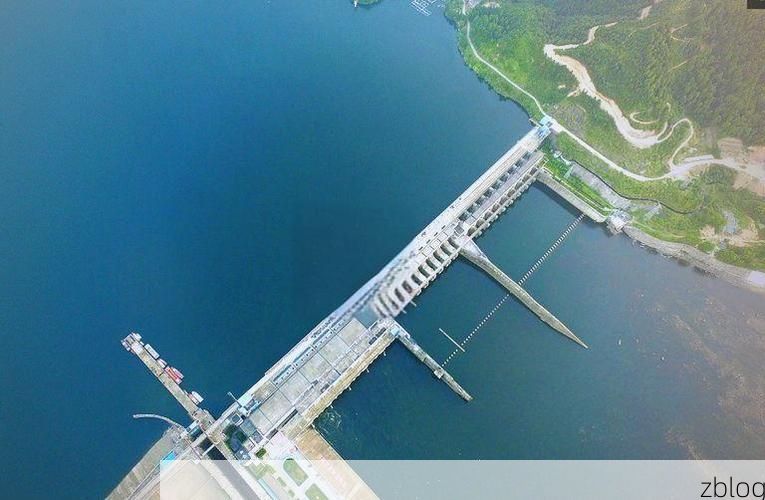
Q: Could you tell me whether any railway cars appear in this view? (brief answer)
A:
No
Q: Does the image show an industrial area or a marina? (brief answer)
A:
marina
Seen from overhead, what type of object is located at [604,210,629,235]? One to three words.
building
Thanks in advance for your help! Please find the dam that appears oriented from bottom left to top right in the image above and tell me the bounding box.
[130,125,551,500]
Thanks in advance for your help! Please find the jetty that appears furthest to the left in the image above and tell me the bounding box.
[125,338,217,431]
